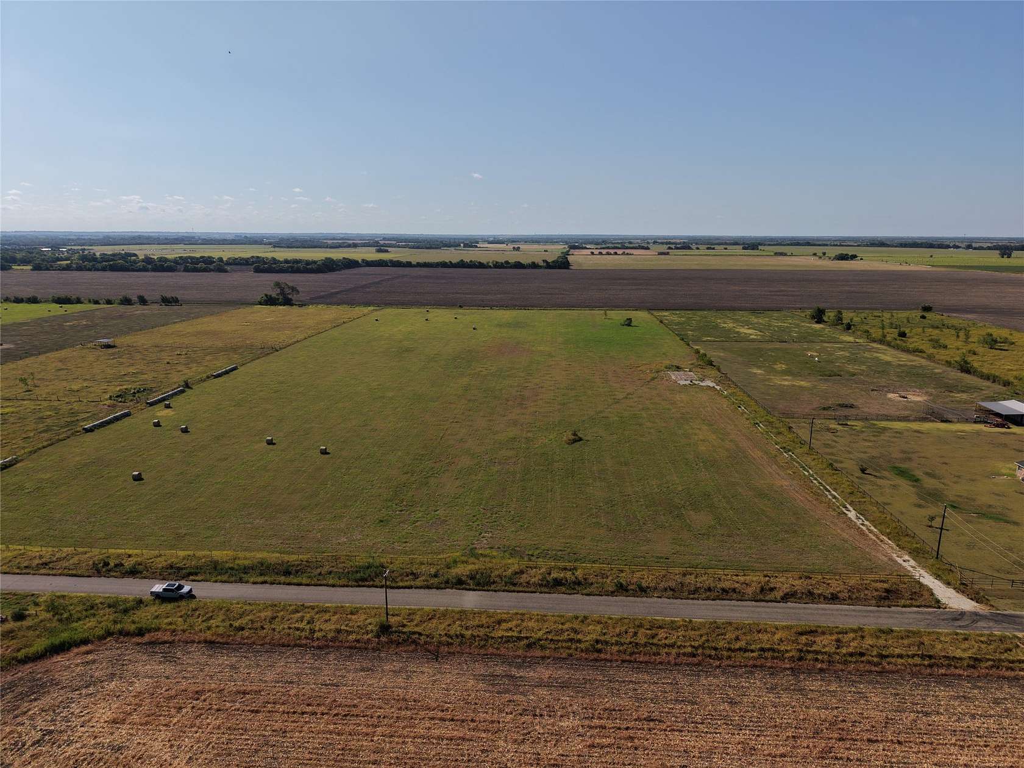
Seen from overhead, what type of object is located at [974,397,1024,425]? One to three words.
barn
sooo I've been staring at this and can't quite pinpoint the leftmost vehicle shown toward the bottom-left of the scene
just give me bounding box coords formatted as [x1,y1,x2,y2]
[147,580,191,598]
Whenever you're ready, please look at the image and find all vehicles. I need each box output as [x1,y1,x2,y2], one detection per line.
[147,580,191,598]
[995,420,1016,428]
